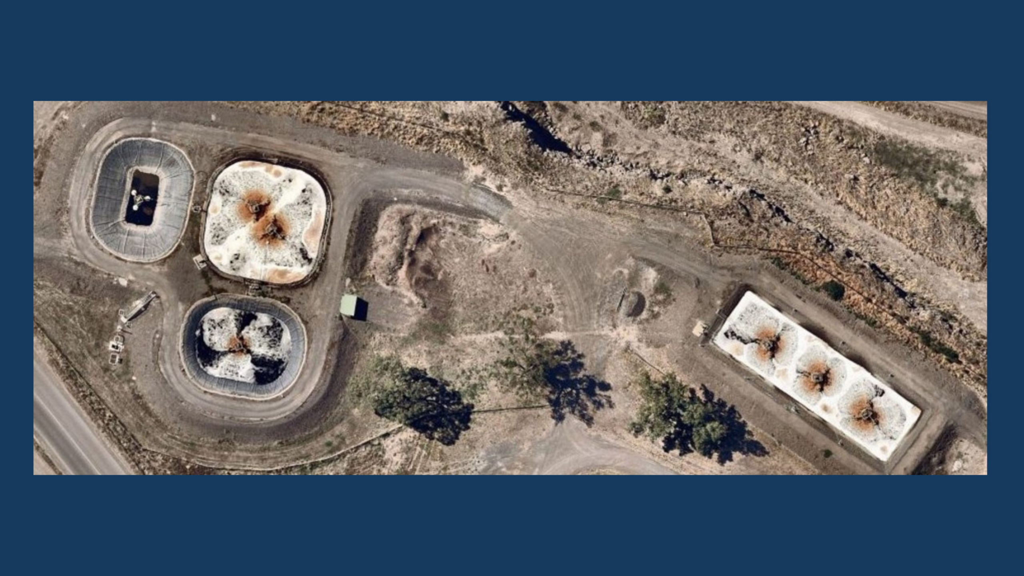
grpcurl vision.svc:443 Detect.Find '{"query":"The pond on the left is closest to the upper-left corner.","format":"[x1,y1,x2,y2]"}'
[88,136,195,262]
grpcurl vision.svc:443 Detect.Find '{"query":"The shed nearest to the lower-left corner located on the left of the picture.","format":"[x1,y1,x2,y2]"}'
[339,295,356,317]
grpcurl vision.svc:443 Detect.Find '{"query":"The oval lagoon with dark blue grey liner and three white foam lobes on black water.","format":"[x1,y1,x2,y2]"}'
[178,293,308,401]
